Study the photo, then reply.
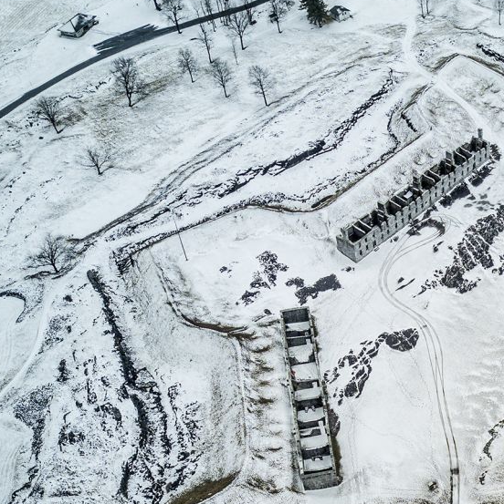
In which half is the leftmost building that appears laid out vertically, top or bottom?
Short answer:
bottom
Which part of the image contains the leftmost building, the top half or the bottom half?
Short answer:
top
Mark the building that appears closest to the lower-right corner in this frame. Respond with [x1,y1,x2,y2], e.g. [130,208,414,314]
[281,306,339,486]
